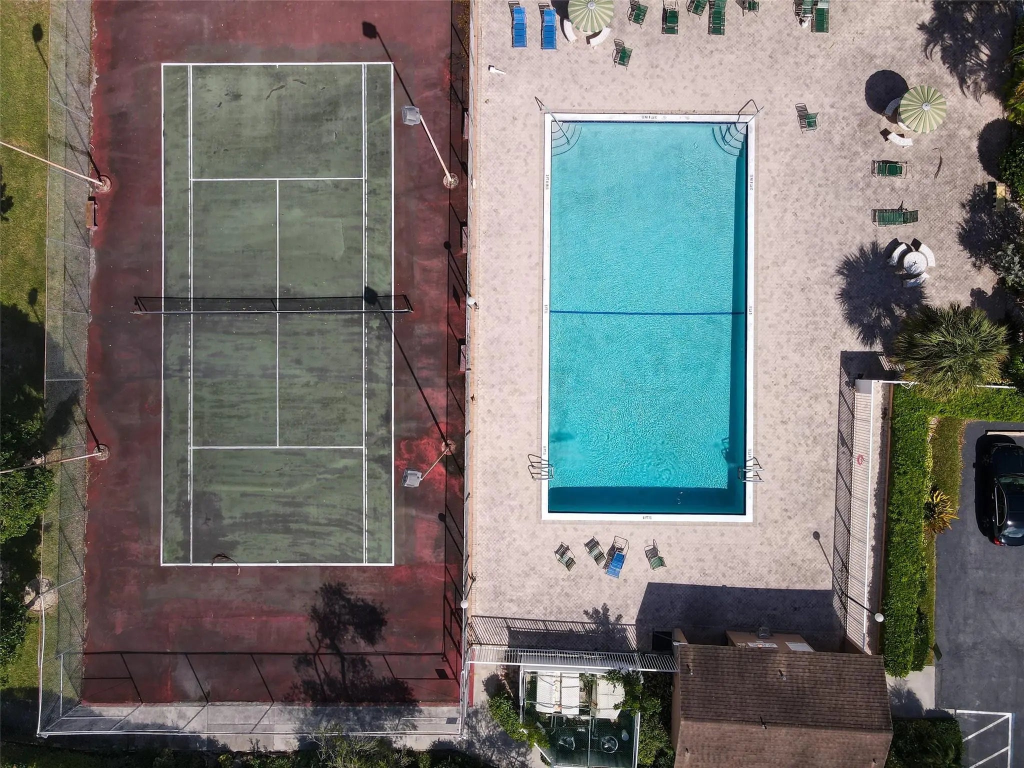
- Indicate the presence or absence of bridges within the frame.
No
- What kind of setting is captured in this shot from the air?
sports ground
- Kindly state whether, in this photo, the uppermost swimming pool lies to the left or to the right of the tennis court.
right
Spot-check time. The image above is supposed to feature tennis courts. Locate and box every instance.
[82,0,475,706]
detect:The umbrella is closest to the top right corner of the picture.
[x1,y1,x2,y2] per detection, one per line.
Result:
[898,86,947,134]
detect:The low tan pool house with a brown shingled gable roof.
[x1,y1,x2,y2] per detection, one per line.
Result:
[668,627,892,768]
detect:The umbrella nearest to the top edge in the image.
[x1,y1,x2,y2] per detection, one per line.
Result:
[567,0,614,35]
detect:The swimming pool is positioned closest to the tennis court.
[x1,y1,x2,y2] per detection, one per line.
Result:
[537,109,760,527]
